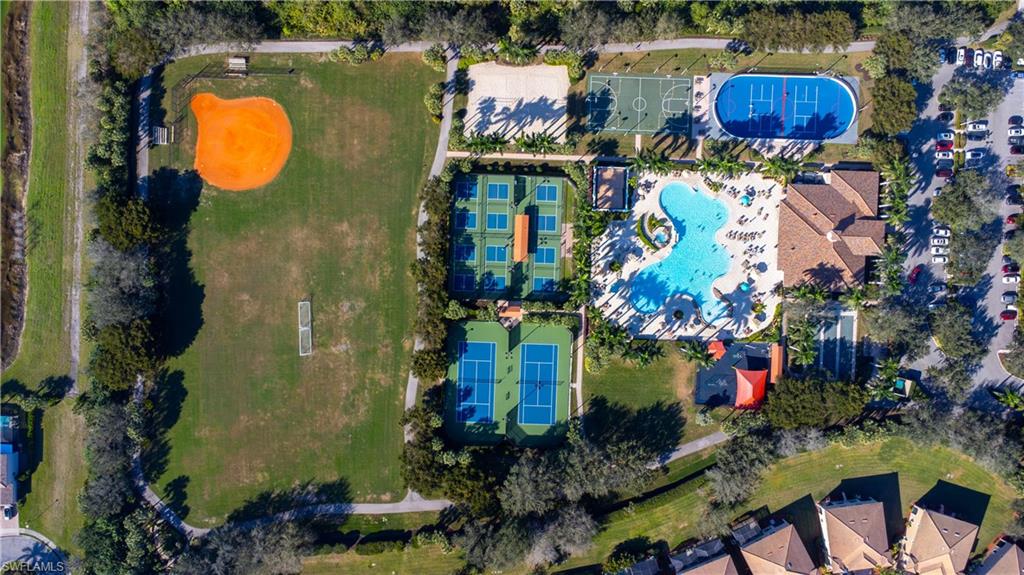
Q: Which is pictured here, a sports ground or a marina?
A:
sports ground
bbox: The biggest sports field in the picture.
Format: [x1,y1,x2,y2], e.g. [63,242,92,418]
[148,51,448,529]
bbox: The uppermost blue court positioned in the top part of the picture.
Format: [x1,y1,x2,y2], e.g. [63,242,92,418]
[705,73,860,144]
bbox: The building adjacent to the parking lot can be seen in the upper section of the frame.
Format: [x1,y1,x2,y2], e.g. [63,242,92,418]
[777,170,885,288]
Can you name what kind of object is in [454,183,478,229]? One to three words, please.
sports court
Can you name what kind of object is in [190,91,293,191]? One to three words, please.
baseball field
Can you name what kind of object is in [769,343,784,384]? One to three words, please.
building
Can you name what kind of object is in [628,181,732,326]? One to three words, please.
swimming pool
